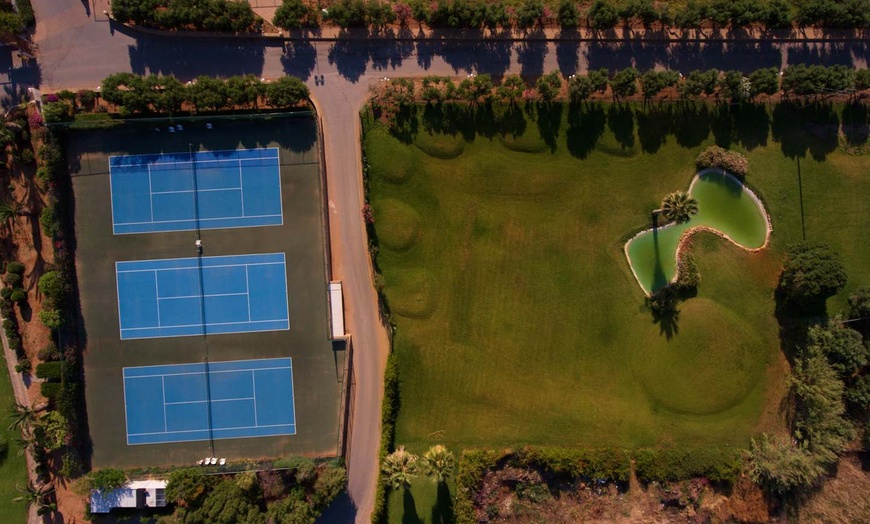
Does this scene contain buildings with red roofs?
No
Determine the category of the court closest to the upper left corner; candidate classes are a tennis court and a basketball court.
tennis court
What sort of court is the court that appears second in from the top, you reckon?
tennis court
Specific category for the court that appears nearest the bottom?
tennis court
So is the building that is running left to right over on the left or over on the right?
left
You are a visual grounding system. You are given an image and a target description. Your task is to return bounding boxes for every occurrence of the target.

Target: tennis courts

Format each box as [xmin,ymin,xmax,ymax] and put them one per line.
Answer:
[109,144,283,236]
[123,356,296,448]
[116,251,289,342]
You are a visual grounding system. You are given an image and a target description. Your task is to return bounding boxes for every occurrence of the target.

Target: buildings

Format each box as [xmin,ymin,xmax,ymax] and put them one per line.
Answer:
[329,280,353,339]
[91,480,173,514]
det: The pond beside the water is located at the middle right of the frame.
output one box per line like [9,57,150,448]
[625,168,771,298]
